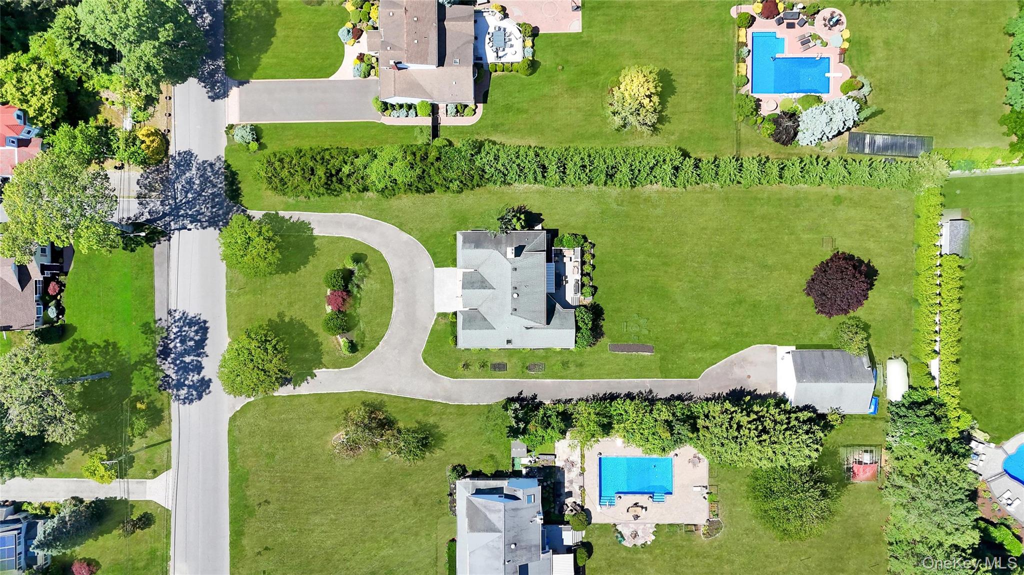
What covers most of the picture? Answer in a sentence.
For the most part, this view shows grass.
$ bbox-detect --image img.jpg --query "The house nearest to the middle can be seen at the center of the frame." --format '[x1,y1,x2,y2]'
[457,231,576,348]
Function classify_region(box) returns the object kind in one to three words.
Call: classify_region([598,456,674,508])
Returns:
swimming pool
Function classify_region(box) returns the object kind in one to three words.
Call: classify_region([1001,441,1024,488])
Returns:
swimming pool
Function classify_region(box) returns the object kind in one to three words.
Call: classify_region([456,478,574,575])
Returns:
house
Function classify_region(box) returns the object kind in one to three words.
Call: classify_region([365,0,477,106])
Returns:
house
